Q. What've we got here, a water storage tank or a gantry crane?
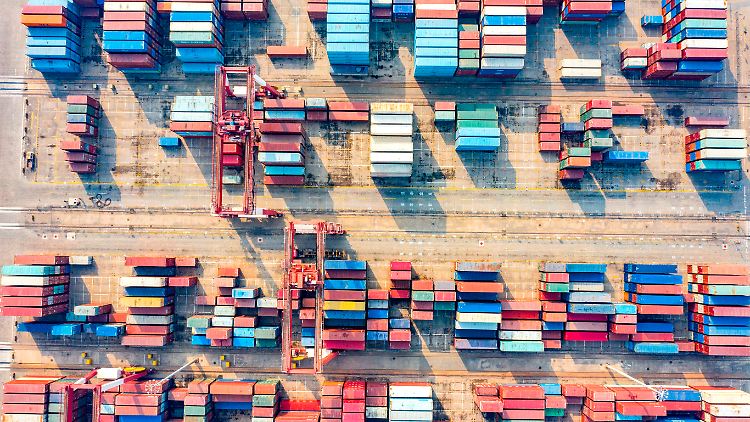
gantry crane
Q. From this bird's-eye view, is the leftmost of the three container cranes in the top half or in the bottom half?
bottom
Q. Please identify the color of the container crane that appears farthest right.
red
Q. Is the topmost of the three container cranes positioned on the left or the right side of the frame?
left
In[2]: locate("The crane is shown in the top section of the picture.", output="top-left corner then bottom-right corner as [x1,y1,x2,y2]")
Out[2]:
[211,65,292,220]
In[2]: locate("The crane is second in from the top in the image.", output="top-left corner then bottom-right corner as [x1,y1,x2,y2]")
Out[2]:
[282,224,352,376]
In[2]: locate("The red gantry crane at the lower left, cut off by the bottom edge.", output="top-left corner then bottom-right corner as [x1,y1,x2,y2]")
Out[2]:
[65,361,162,422]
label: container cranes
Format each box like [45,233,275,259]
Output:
[282,224,352,376]
[65,361,162,422]
[211,65,292,220]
